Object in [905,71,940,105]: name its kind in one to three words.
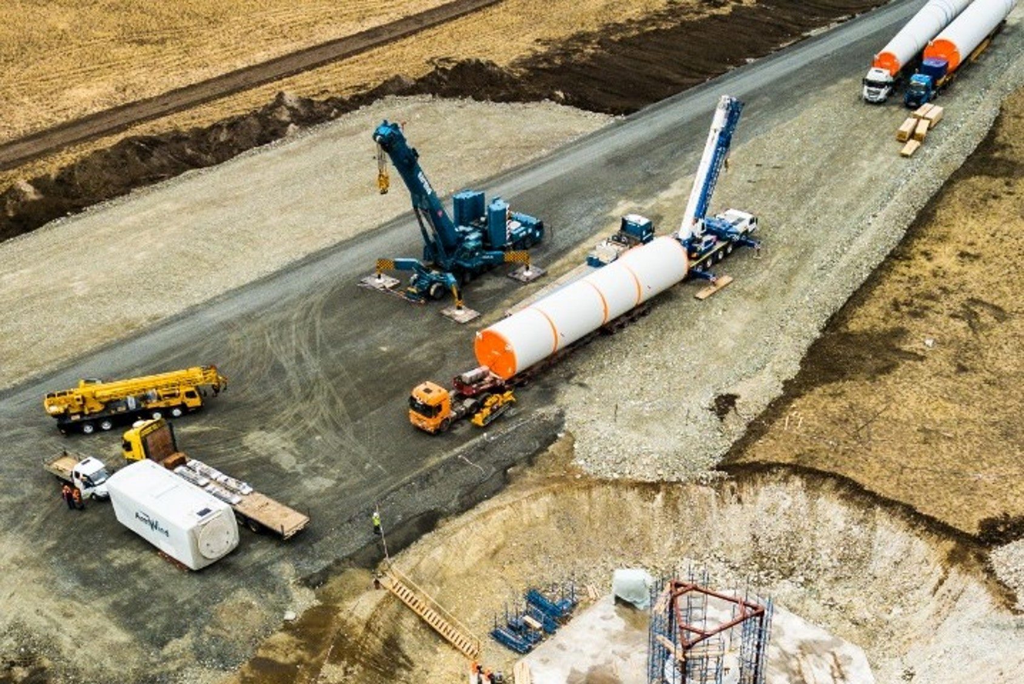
truck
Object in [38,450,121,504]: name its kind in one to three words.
van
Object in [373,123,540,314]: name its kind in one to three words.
crane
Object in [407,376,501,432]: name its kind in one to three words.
truck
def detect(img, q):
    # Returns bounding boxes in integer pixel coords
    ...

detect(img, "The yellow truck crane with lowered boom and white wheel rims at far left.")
[48,361,227,434]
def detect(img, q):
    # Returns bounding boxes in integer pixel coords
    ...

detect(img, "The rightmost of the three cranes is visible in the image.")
[677,95,760,284]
